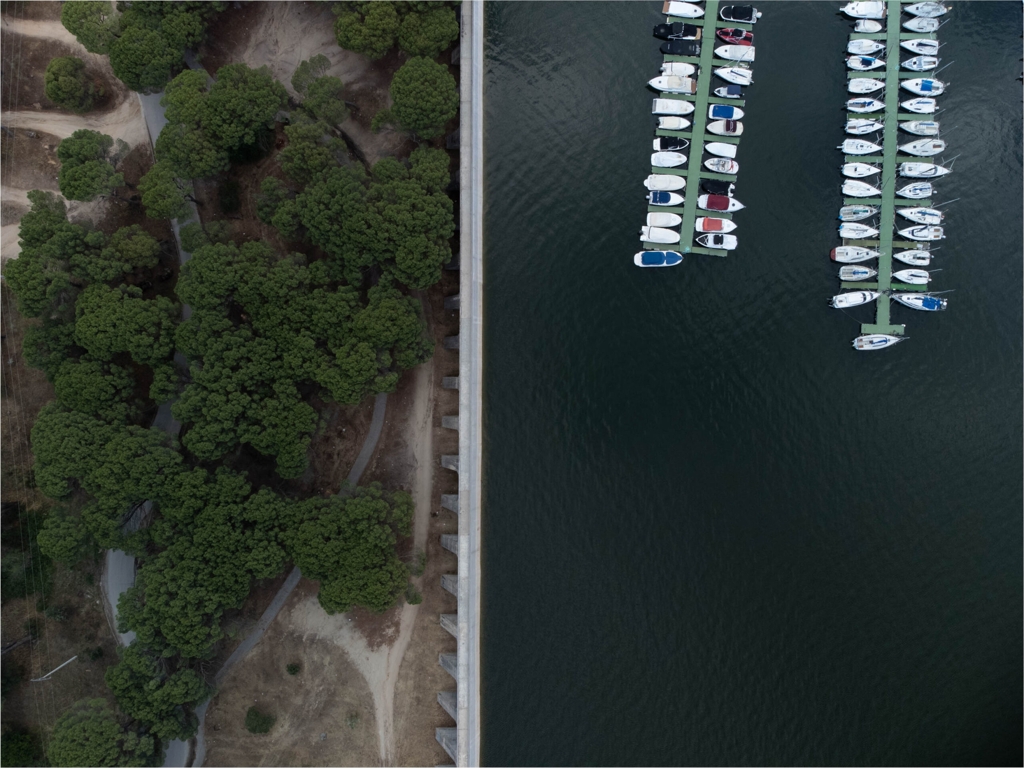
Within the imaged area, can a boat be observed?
Yes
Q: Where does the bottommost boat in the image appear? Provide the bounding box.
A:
[852,334,913,349]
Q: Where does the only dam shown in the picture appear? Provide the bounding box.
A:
[434,0,484,768]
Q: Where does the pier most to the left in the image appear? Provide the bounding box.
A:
[643,0,753,257]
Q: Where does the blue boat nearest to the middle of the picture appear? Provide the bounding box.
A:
[634,250,684,266]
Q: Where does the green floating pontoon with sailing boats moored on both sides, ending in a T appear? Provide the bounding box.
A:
[840,0,937,335]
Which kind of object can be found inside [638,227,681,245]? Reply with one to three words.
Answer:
boat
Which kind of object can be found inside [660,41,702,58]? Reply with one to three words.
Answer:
boat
